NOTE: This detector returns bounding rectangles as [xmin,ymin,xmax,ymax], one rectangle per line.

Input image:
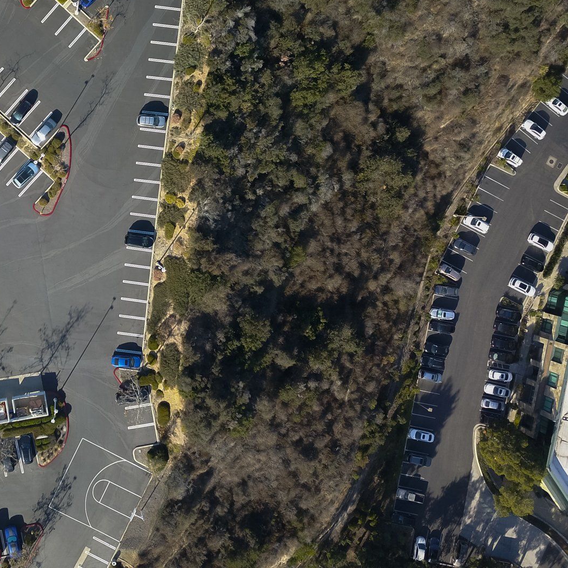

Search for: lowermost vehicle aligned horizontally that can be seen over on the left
[118,387,149,403]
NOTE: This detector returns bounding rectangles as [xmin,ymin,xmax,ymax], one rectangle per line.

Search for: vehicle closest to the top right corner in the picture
[543,97,568,119]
